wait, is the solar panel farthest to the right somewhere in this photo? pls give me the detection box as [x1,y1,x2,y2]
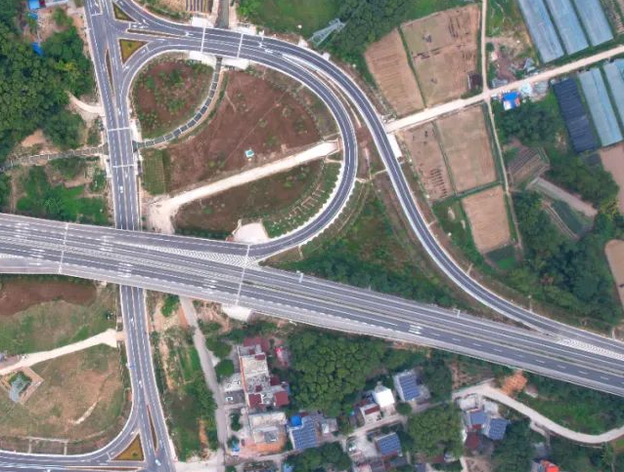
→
[490,419,506,438]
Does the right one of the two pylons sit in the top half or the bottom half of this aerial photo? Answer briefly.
top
